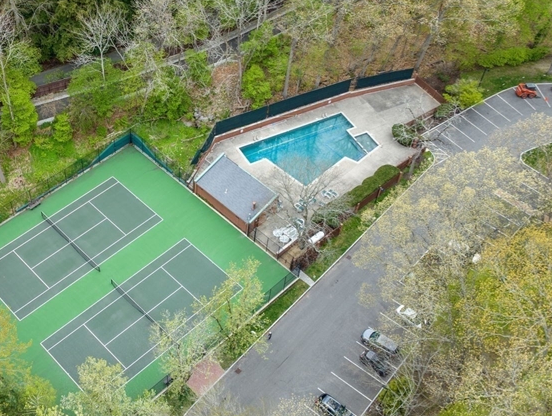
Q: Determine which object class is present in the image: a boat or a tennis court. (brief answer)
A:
tennis court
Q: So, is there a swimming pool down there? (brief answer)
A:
Yes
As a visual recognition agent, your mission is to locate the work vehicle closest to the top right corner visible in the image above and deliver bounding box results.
[517,81,538,98]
